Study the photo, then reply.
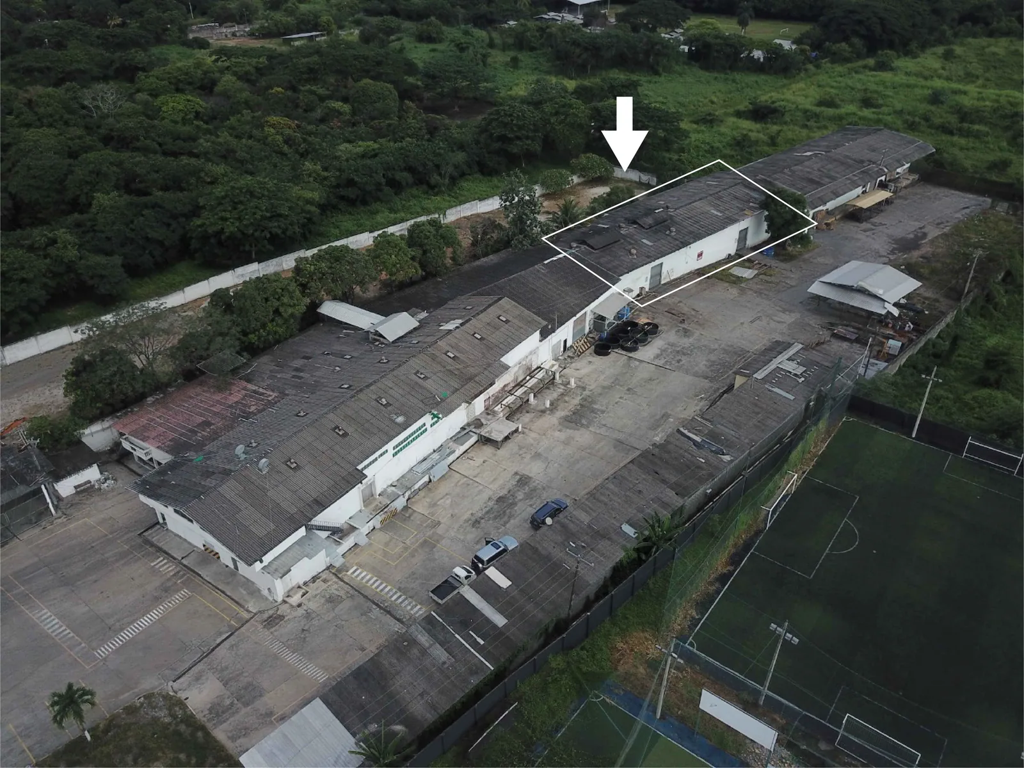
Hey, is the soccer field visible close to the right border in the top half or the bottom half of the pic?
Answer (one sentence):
The bottom half of the photo is where the soccer field visible close to the right border is.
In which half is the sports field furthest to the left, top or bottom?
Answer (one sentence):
The sports field furthest to the left is in the bottom half of the image.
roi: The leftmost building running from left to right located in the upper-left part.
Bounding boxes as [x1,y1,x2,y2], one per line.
[189,18,252,40]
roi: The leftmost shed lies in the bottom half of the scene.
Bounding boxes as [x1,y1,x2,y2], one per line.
[0,444,56,510]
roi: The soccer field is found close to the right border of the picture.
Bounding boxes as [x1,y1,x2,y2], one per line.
[691,417,1024,768]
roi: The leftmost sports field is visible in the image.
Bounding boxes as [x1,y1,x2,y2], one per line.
[535,693,713,768]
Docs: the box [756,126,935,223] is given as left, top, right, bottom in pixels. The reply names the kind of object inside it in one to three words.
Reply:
building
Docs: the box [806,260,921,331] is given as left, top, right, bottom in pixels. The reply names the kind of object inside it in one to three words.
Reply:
shed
